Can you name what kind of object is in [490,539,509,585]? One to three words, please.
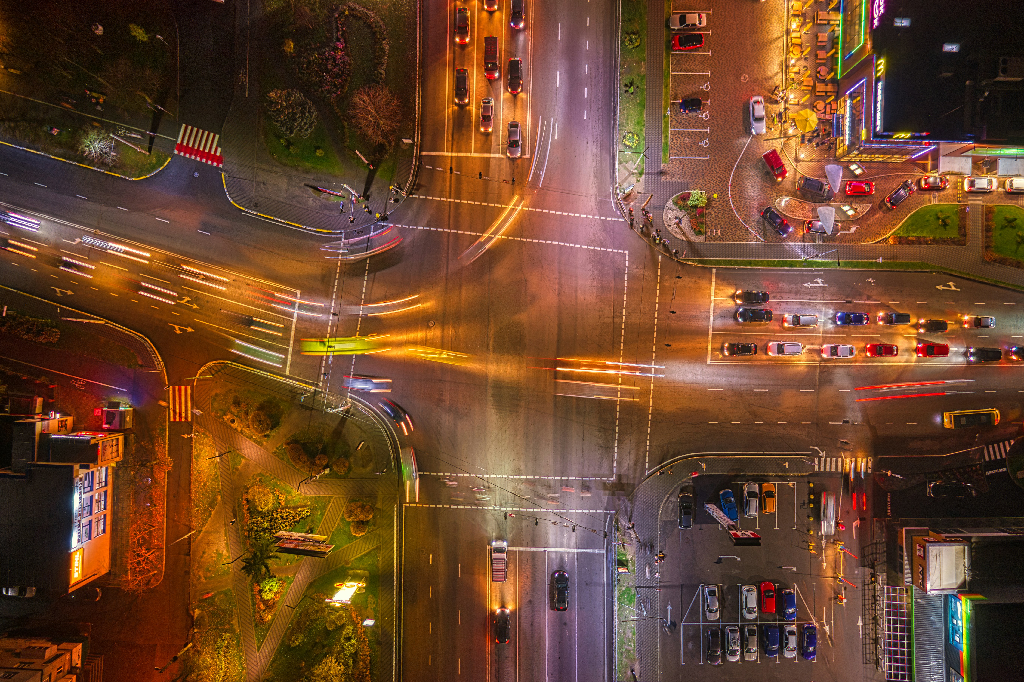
vehicle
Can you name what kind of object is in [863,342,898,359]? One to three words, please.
car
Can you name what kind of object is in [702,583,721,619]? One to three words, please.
car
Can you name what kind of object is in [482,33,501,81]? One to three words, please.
vehicle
